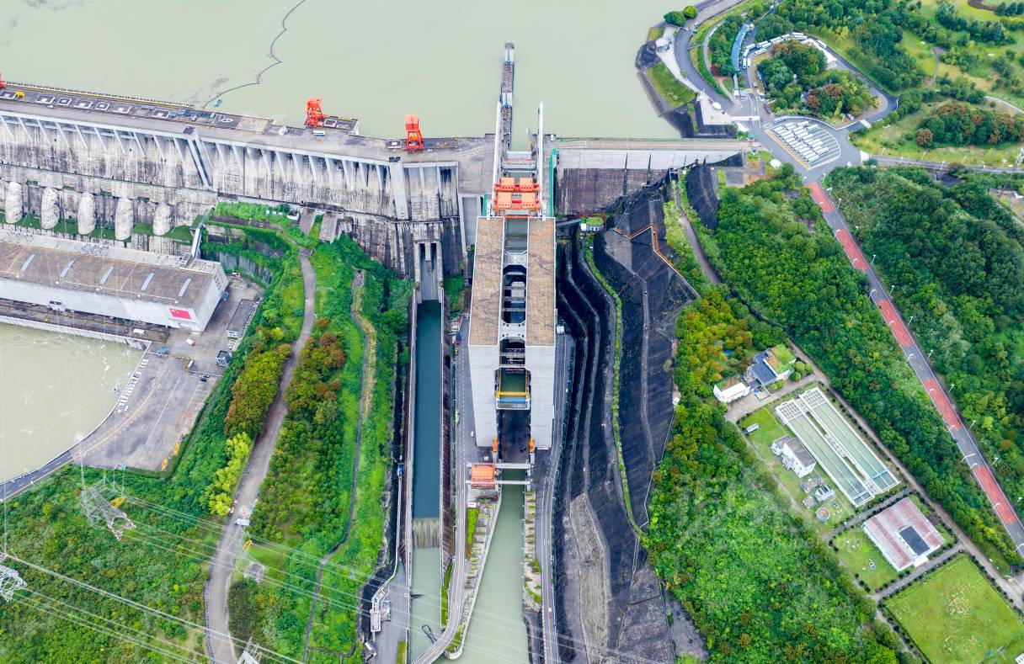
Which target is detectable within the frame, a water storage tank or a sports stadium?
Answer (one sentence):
Of the two, only a water storage tank appears.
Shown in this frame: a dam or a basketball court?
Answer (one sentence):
I can see a dam in this picture.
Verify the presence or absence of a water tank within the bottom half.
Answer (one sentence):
Yes, a water tank is visible within the bottom half.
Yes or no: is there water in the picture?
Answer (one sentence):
Yes, water shows up in the scene.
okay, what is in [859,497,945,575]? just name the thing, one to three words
building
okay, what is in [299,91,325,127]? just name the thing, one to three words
container crane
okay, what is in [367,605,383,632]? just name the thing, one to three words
building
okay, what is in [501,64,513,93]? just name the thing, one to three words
pier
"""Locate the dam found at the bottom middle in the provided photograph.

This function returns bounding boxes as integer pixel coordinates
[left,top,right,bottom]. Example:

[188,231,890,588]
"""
[412,518,442,546]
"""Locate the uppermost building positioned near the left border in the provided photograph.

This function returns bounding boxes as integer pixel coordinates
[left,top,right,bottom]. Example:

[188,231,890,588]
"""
[0,231,230,332]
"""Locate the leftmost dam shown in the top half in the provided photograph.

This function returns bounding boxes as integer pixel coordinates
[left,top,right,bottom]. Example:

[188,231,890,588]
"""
[0,82,464,301]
